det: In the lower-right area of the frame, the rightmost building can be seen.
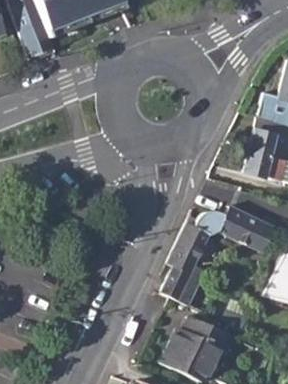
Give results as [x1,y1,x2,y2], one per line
[260,254,288,306]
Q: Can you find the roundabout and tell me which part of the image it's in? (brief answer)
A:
top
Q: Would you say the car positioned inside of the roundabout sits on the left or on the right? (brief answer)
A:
right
